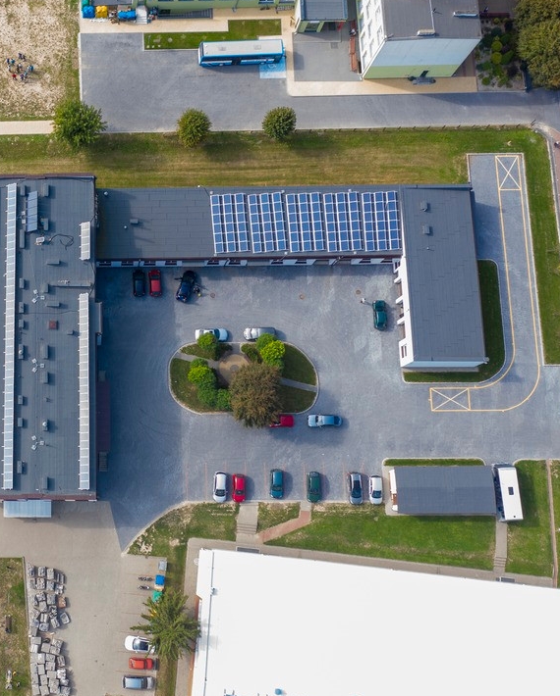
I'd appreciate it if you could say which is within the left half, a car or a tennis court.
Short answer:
car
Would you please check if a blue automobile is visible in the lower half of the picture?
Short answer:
Yes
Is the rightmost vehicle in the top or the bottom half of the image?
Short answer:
bottom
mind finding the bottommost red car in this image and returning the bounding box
[127,657,153,672]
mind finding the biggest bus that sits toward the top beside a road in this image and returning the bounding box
[199,37,288,66]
